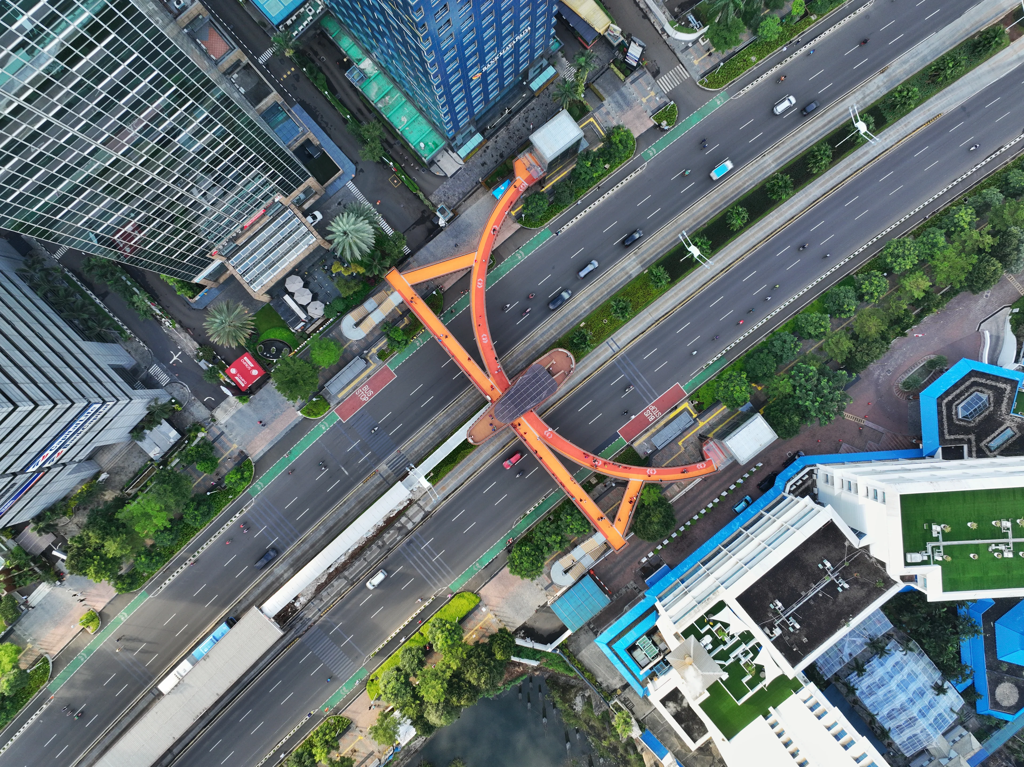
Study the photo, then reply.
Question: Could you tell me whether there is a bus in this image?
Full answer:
Yes, you can see a bus in this photo.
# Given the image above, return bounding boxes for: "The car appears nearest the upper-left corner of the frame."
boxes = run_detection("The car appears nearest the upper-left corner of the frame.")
[306,207,326,227]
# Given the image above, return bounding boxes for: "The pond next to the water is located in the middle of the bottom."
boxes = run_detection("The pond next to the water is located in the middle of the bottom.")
[391,677,600,767]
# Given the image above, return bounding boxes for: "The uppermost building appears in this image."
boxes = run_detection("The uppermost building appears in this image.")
[558,0,612,49]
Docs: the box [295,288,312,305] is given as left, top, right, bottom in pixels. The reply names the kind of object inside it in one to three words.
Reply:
umbrella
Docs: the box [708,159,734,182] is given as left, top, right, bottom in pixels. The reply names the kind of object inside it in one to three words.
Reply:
vehicle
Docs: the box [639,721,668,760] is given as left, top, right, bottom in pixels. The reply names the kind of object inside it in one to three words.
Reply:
shed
